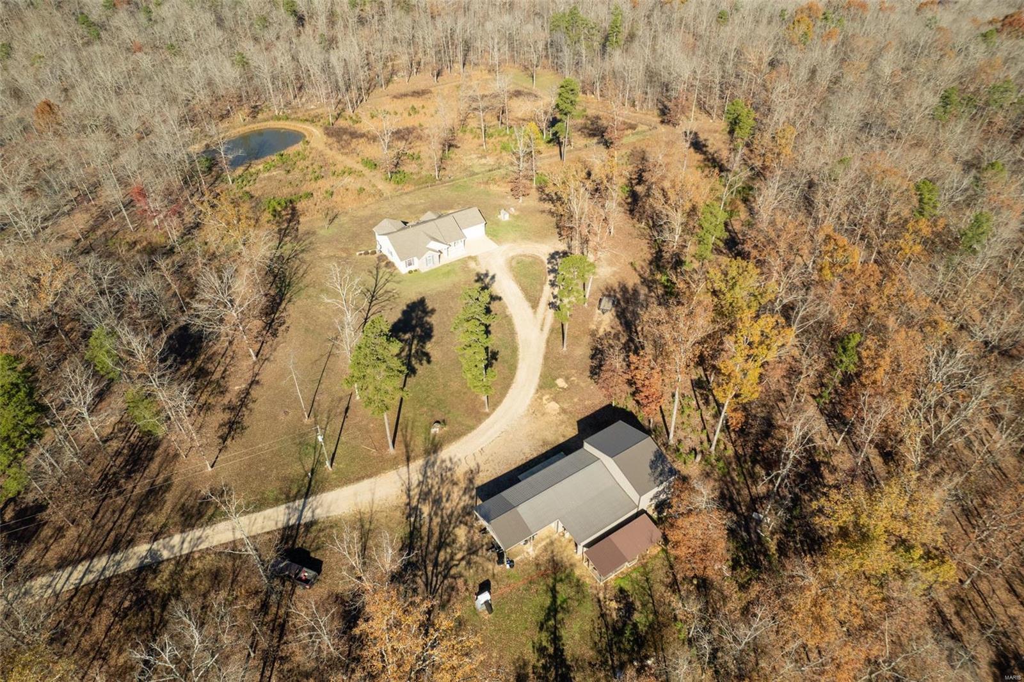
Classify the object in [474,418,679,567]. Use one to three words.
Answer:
building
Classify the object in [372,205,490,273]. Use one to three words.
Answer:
house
